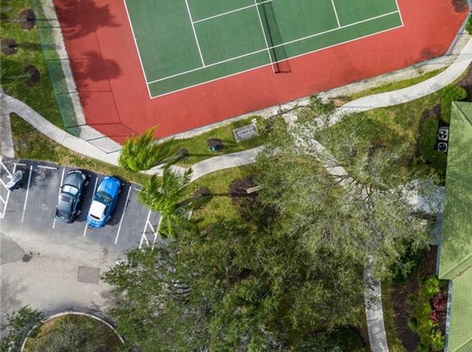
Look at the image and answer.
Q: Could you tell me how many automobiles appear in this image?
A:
2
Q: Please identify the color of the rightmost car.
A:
blue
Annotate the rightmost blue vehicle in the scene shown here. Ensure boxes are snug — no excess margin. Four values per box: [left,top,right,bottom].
[82,176,119,231]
